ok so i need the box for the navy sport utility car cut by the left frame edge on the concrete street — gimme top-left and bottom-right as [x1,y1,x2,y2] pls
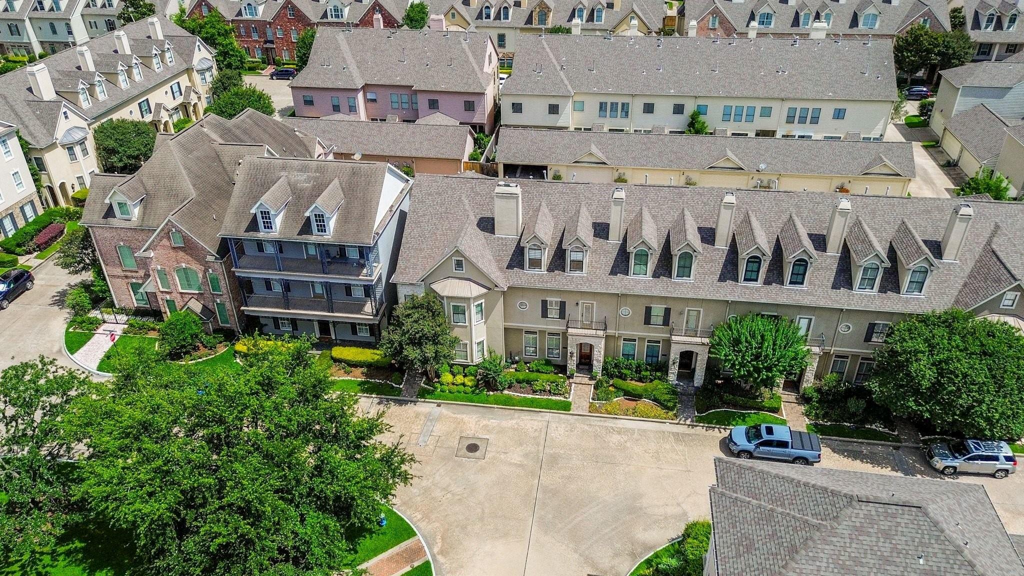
[0,270,33,309]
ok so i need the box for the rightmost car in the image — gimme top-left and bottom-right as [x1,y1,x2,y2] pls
[921,434,1024,479]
